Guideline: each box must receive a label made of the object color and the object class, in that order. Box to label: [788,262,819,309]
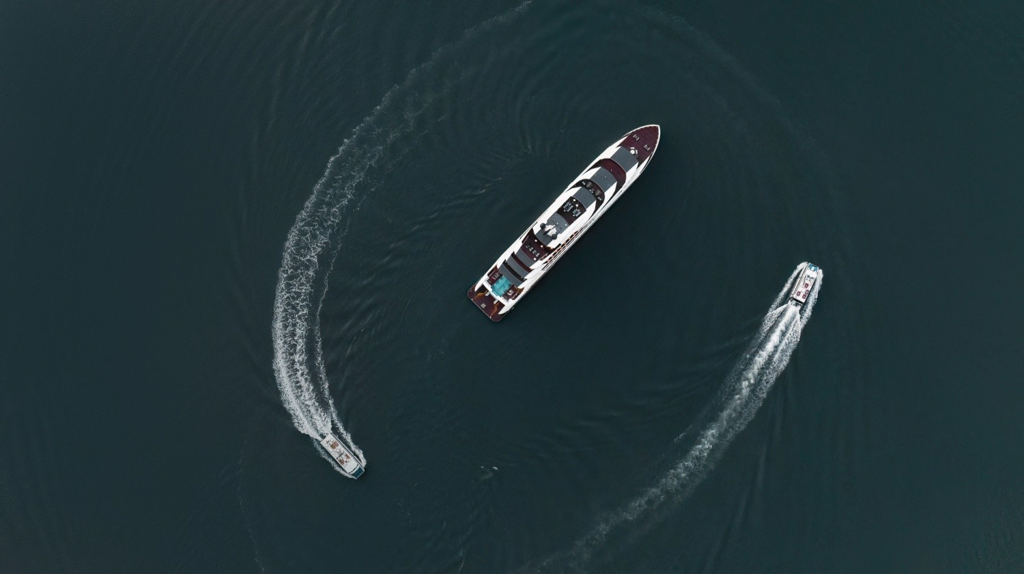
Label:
white boat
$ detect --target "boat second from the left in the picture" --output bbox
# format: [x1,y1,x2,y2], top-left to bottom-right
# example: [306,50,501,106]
[468,124,661,322]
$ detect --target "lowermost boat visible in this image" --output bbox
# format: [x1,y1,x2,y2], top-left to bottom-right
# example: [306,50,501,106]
[320,433,365,479]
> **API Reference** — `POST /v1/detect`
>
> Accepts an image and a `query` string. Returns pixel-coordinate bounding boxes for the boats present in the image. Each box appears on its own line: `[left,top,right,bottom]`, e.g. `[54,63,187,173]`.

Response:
[320,433,365,479]
[468,124,661,322]
[788,262,819,309]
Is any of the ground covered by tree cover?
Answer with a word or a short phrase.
No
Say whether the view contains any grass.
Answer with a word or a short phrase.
No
